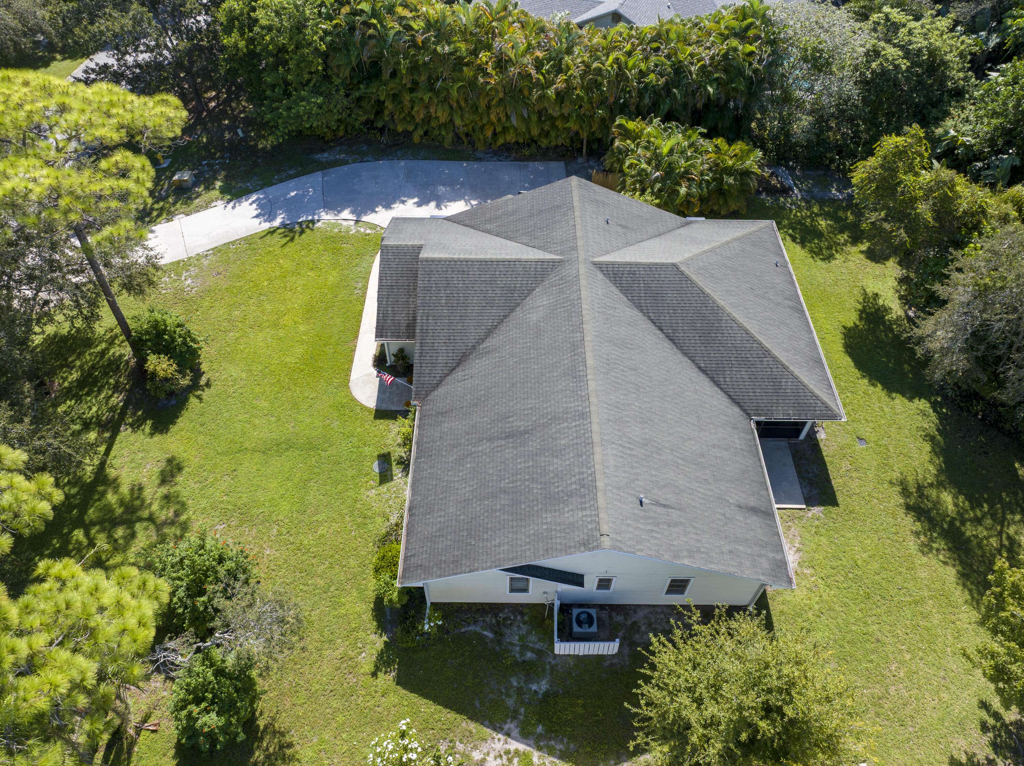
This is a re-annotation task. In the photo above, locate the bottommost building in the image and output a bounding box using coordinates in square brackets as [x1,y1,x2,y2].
[374,172,851,626]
